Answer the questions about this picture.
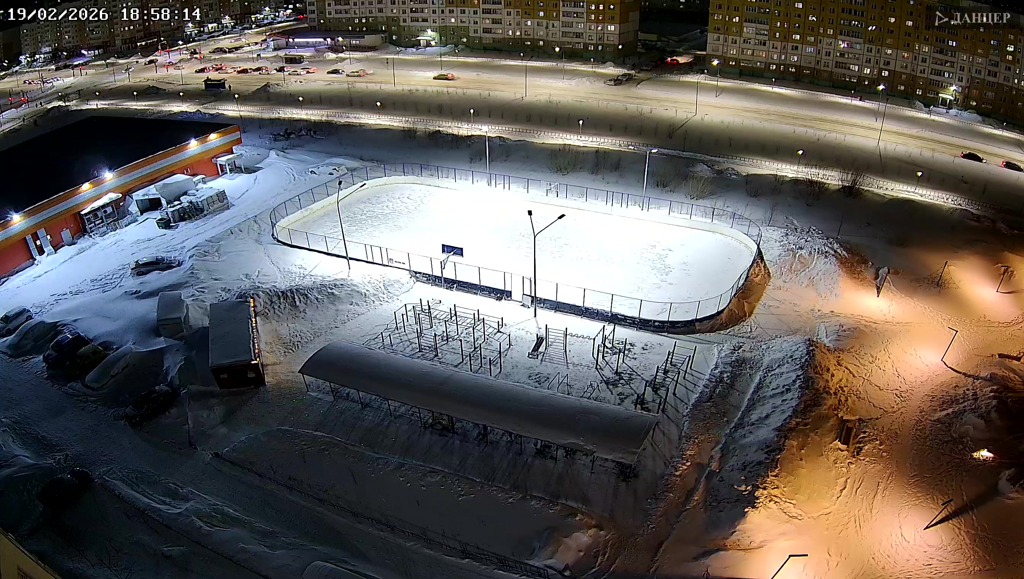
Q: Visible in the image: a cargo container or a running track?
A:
cargo container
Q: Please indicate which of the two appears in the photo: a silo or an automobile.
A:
automobile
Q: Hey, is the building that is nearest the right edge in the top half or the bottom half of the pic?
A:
top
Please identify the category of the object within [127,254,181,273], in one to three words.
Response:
car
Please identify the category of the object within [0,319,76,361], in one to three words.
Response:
car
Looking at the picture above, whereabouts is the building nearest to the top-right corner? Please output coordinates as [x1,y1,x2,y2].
[707,0,1024,136]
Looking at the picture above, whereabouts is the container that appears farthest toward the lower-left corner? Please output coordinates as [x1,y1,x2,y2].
[196,304,264,389]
